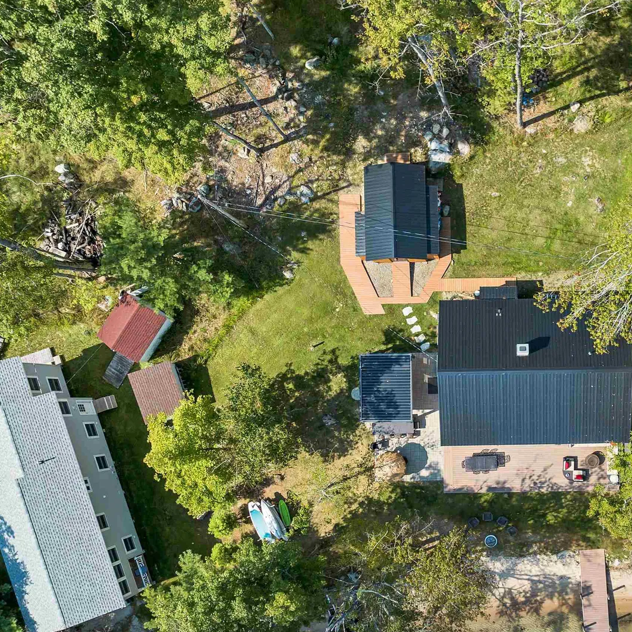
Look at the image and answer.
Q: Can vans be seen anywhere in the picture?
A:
No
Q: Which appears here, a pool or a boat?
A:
boat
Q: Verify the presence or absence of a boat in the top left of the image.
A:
No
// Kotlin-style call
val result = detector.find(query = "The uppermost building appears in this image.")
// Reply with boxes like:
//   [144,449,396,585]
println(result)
[356,161,439,264]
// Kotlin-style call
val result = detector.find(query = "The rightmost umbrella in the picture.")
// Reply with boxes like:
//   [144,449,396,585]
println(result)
[370,446,411,486]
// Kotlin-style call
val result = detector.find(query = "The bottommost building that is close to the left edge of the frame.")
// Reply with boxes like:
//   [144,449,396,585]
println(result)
[0,354,154,632]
